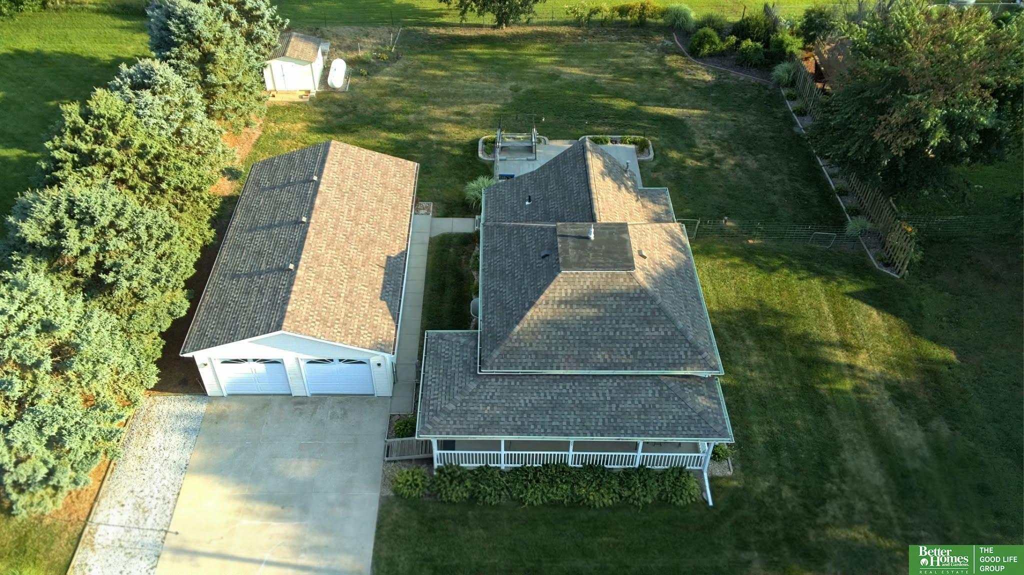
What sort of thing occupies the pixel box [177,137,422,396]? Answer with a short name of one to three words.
building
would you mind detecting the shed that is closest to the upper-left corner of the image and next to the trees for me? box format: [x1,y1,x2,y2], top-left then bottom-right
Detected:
[262,28,322,93]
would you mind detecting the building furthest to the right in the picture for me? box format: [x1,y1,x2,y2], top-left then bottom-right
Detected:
[413,138,737,508]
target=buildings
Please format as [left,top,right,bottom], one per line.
[262,28,322,93]
[177,137,422,396]
[413,138,737,508]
